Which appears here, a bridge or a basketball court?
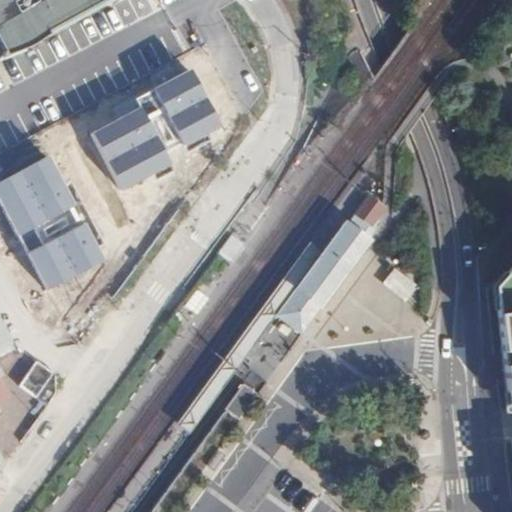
bridge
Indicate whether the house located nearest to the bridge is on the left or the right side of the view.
right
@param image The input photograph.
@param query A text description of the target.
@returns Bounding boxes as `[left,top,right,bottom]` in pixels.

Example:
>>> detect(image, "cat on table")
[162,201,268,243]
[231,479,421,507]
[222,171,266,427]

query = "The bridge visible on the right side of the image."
[350,32,457,144]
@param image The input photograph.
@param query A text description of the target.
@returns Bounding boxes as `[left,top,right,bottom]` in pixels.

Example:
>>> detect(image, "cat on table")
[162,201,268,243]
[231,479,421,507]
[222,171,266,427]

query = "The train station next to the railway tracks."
[48,129,391,512]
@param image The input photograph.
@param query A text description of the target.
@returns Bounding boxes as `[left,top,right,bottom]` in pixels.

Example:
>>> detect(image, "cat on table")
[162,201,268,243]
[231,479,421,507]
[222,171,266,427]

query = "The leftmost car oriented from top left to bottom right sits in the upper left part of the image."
[5,56,22,78]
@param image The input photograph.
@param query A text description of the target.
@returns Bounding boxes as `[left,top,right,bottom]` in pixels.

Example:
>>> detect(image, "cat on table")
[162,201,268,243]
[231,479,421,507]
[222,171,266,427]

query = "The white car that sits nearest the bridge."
[244,70,258,91]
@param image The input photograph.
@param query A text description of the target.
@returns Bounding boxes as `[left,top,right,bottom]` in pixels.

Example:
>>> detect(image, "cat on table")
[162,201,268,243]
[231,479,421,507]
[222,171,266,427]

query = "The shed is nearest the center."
[220,234,246,262]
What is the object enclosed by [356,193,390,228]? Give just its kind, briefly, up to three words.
house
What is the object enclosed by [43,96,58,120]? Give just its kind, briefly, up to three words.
car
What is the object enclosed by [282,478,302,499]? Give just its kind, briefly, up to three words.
car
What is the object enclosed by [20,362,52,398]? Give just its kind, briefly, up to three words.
building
